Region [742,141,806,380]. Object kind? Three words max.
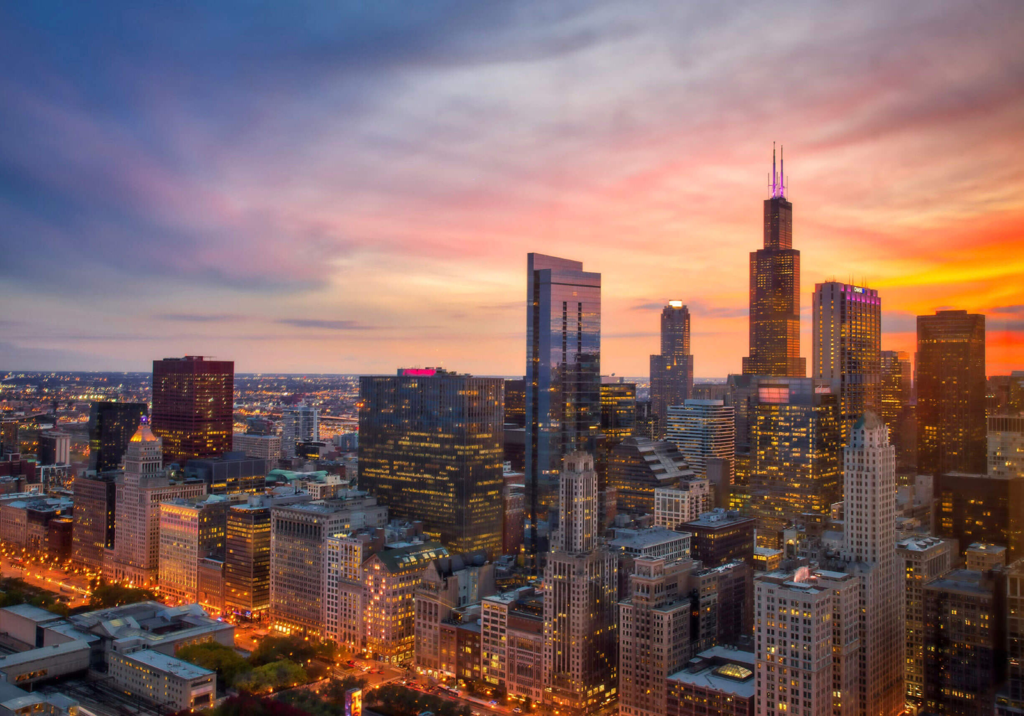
building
